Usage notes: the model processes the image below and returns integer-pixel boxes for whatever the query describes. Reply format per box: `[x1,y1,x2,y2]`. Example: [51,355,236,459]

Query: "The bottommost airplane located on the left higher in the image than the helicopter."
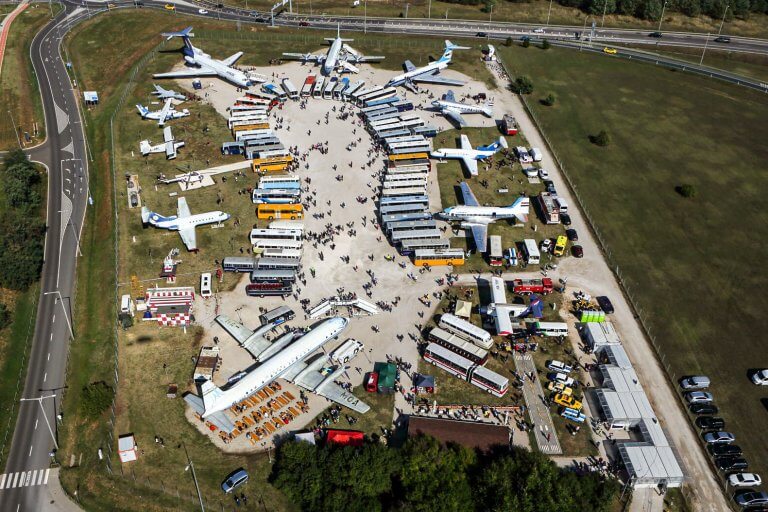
[136,125,187,157]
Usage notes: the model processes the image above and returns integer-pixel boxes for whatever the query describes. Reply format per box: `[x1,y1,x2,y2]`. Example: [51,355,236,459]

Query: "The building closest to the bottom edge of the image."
[611,445,684,489]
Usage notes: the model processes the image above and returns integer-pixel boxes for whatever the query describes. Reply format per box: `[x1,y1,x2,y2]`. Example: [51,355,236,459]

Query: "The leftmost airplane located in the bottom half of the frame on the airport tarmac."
[186,310,371,430]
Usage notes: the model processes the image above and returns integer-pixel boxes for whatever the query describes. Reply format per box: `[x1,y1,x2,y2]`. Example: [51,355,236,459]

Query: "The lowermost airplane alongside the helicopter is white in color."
[141,196,230,251]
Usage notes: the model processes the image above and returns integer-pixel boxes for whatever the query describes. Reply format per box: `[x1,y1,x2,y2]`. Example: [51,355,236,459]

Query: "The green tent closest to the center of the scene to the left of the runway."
[376,361,400,394]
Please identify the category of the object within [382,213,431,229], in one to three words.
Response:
vehicle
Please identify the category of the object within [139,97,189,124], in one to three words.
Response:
airplane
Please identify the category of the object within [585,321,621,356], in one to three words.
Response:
building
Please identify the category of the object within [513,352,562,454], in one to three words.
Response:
runway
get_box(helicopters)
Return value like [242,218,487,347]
[157,164,214,187]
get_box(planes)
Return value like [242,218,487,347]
[478,275,546,334]
[434,134,510,175]
[141,196,230,251]
[139,97,189,124]
[186,310,371,430]
[148,87,188,103]
[380,47,470,91]
[283,24,385,79]
[431,88,494,123]
[152,27,248,88]
[440,182,532,251]
[136,125,187,157]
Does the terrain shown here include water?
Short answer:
No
